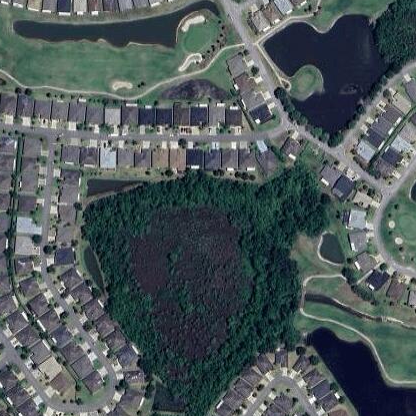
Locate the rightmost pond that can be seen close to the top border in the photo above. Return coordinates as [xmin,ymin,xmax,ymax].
[13,0,220,48]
